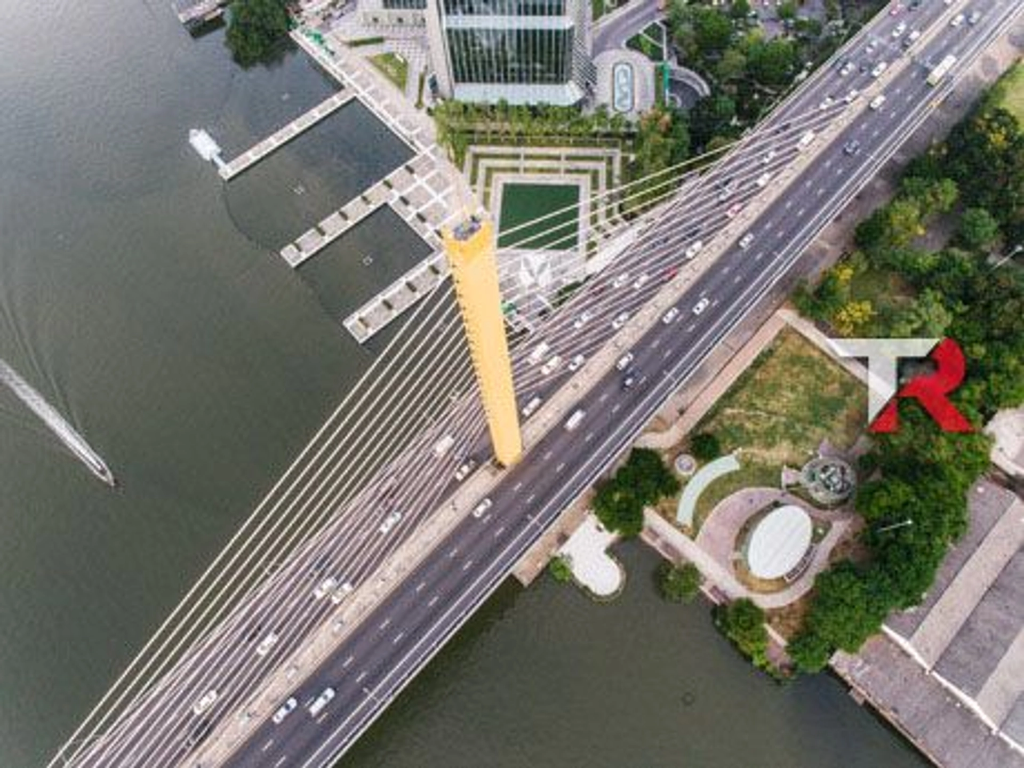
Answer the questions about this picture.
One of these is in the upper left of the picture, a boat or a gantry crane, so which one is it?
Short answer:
boat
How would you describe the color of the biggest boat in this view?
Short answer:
white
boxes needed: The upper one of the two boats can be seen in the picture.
[188,128,228,168]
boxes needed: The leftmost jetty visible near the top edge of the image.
[176,0,232,29]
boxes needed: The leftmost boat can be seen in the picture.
[89,455,115,486]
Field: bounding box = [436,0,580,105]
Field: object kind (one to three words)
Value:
building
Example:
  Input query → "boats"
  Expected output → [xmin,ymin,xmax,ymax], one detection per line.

[89,455,115,486]
[188,128,228,168]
